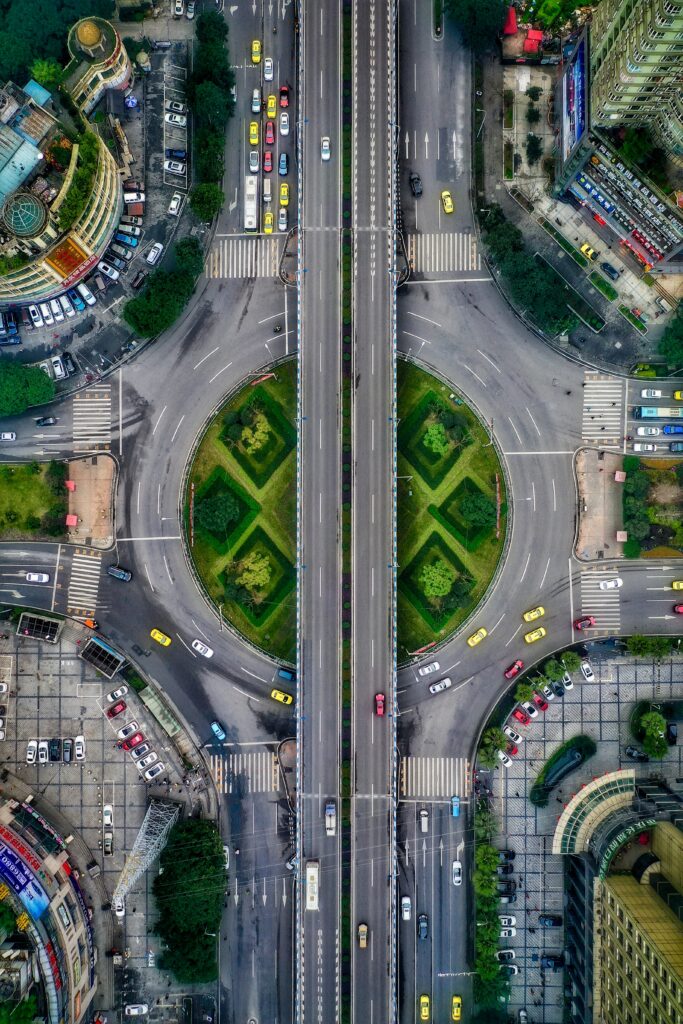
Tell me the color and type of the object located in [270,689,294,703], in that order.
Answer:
yellow car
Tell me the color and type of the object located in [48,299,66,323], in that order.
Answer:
white vehicle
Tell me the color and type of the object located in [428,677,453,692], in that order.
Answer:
white car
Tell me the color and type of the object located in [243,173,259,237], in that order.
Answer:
white vehicle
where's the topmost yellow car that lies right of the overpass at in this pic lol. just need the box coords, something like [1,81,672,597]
[441,191,453,215]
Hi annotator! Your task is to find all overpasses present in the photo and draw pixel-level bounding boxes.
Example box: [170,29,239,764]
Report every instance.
[299,0,396,1024]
